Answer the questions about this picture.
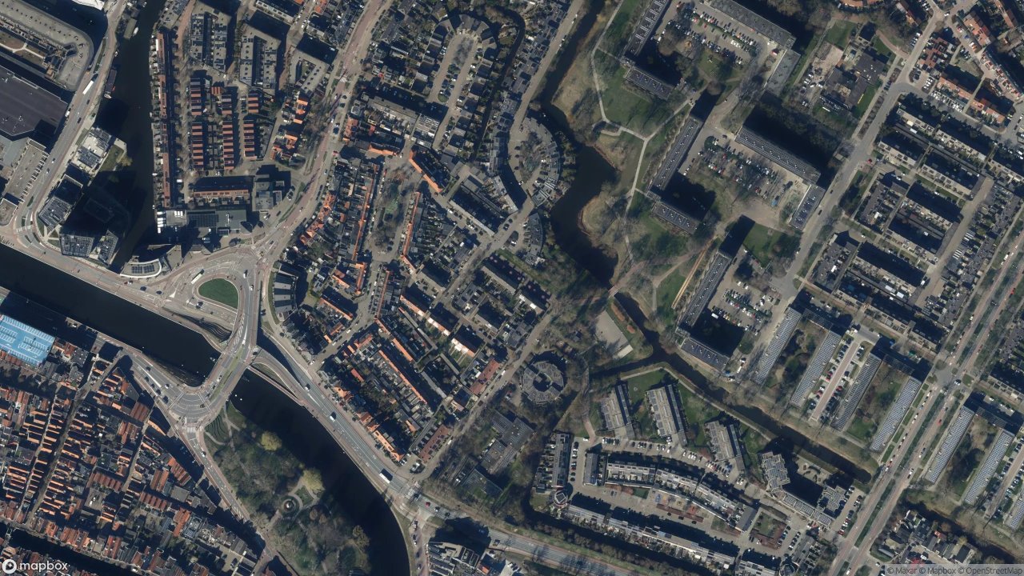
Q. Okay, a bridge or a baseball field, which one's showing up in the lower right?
bridge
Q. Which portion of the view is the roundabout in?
left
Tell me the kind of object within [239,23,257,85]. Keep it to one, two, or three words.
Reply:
building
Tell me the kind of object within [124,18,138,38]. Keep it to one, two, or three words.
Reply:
boat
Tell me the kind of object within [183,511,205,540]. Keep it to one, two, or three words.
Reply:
building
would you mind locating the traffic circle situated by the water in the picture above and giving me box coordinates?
[161,257,256,397]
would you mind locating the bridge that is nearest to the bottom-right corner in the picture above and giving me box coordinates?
[856,469,917,514]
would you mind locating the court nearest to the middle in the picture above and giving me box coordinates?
[594,311,632,359]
